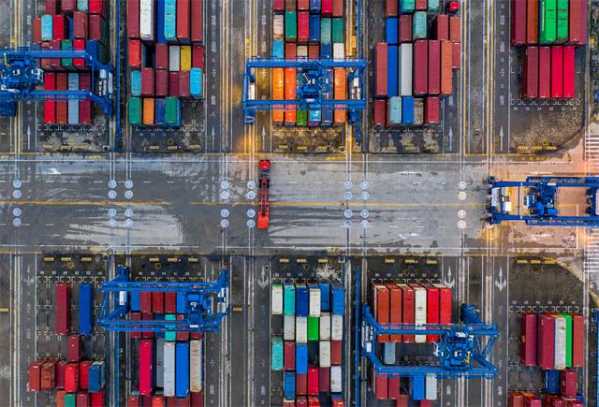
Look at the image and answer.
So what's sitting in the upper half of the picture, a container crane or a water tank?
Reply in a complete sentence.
Looking in the upper half of the picture, you will find a container crane.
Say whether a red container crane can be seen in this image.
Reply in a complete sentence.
No, no red container crane is visible in the view.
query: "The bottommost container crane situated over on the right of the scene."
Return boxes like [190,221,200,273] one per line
[360,298,500,377]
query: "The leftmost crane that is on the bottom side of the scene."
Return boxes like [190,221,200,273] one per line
[97,261,231,336]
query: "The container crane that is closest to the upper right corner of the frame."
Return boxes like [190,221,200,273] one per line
[488,173,599,230]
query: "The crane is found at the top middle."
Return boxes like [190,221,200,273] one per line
[243,54,369,129]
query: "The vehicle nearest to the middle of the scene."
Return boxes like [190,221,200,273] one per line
[257,159,270,230]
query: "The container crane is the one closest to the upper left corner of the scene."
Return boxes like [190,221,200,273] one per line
[0,45,115,120]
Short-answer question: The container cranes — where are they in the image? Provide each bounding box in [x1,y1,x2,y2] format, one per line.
[488,173,599,230]
[97,261,231,336]
[360,298,500,377]
[243,54,369,129]
[0,45,115,120]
